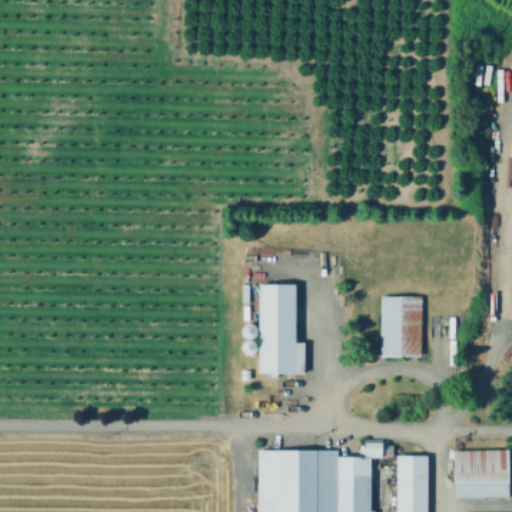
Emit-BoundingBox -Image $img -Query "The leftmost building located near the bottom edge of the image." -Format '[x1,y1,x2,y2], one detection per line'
[259,450,338,512]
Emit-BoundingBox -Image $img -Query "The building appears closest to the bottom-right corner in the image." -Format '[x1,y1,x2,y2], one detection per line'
[455,450,510,498]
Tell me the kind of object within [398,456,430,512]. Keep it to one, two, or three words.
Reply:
shed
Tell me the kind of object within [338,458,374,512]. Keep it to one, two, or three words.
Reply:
shed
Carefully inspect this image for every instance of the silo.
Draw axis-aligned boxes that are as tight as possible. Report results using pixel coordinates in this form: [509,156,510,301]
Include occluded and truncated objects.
[242,324,258,340]
[242,340,258,356]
